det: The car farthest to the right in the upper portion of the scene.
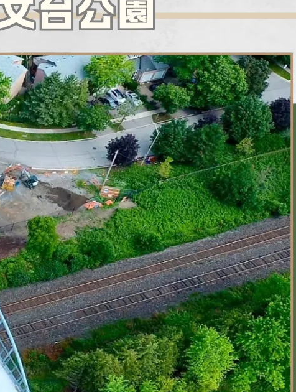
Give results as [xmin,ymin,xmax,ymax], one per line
[143,78,163,92]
